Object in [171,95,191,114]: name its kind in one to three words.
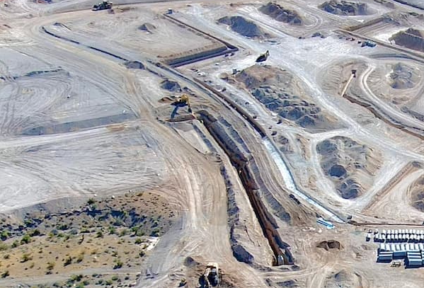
work vehicle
